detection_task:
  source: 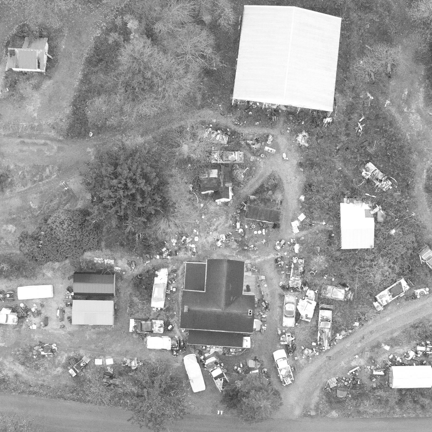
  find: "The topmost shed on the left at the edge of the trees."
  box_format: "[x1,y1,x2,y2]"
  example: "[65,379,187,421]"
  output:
[6,36,52,74]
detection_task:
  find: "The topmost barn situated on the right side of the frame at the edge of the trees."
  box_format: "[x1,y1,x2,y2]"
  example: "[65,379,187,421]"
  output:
[232,5,342,117]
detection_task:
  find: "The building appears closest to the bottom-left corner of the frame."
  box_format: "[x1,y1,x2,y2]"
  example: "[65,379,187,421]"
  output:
[72,300,113,325]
